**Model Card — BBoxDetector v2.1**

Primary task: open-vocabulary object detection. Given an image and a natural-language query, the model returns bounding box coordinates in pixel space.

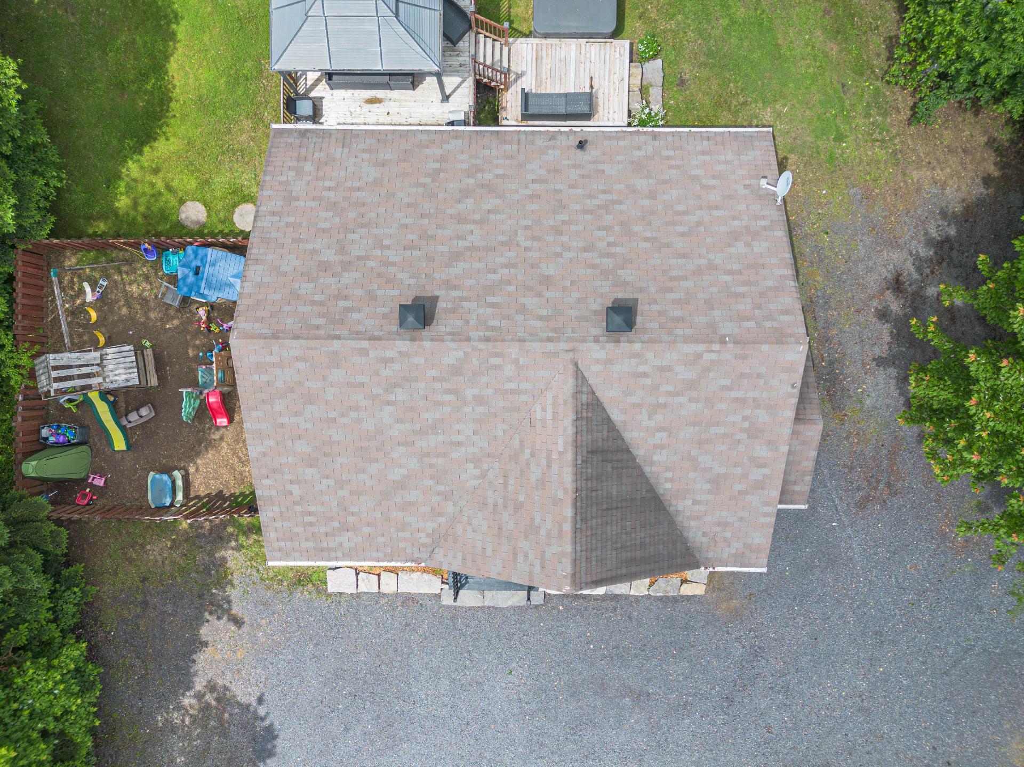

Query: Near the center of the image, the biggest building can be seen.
[231,123,823,591]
